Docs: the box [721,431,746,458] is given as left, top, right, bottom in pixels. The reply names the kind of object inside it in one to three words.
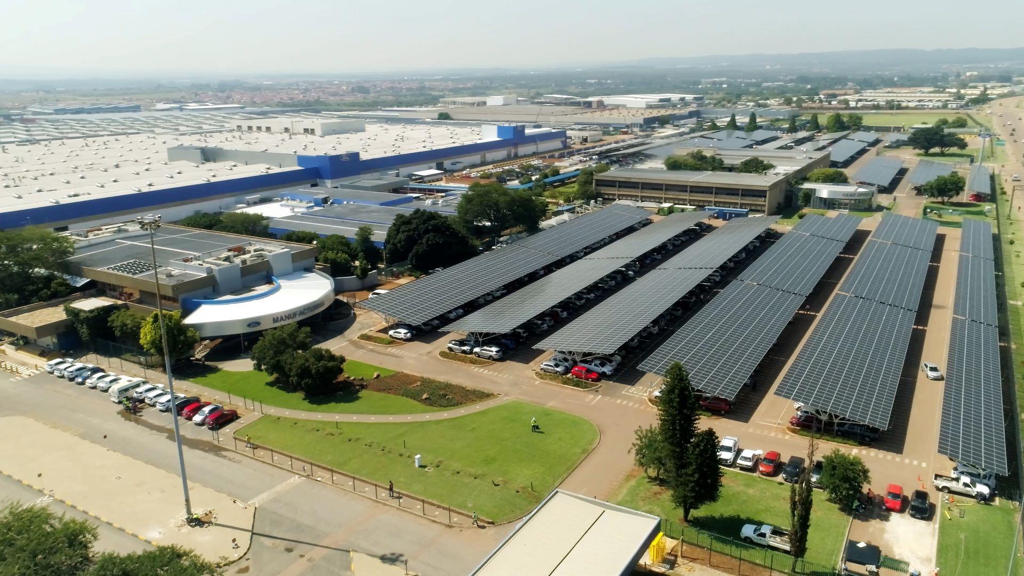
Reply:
truck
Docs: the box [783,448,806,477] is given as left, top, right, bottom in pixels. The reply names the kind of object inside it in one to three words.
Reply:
car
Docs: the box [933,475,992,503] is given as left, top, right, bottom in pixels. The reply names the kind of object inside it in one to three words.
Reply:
truck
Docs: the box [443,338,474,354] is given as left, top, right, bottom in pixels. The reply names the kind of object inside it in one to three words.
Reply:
car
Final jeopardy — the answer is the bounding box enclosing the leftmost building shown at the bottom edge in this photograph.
[472,490,662,576]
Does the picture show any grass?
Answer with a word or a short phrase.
Yes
